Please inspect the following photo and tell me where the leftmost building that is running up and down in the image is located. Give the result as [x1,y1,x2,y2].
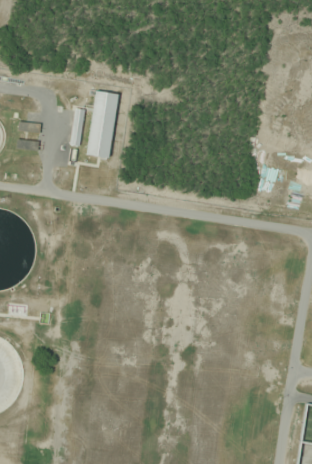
[70,107,86,146]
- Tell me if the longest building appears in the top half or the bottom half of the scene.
top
